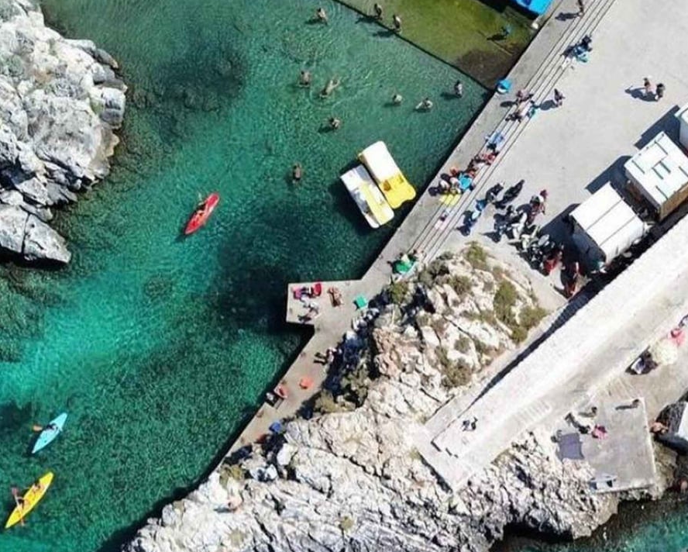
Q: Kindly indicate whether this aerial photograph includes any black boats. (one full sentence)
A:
No, the scene contains no black boat.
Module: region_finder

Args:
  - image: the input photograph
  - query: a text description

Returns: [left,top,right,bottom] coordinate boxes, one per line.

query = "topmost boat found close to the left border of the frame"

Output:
[30,411,67,455]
